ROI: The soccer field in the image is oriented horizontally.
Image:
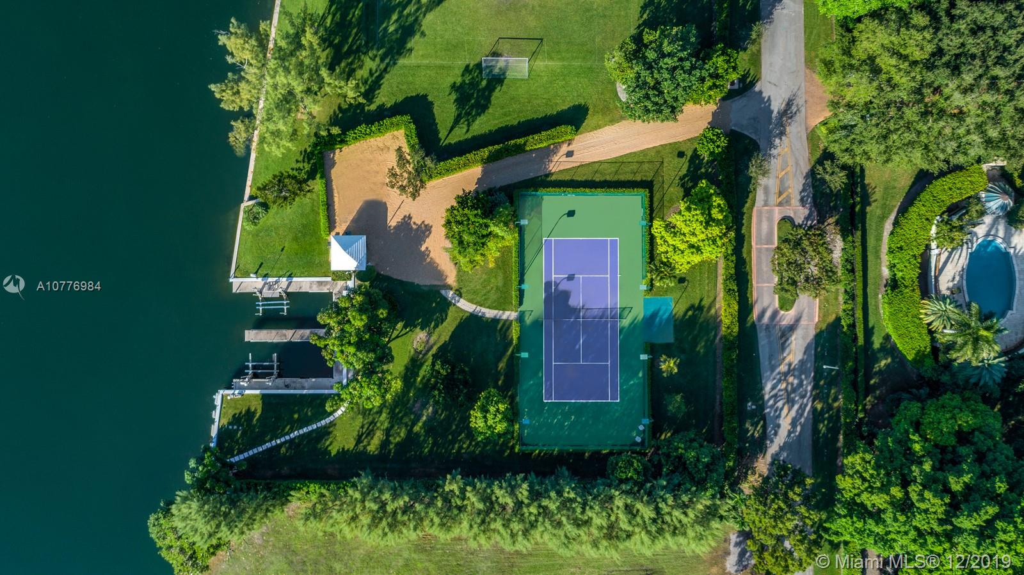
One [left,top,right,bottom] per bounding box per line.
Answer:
[377,0,634,63]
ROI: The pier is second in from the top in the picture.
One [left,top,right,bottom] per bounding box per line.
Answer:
[244,328,322,342]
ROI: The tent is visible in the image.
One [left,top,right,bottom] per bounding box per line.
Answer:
[331,235,369,270]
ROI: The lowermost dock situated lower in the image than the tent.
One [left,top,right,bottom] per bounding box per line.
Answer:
[234,358,344,389]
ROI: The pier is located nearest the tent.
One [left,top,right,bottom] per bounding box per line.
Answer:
[232,280,347,301]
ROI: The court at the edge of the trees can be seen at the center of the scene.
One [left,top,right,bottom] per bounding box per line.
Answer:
[519,195,641,445]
